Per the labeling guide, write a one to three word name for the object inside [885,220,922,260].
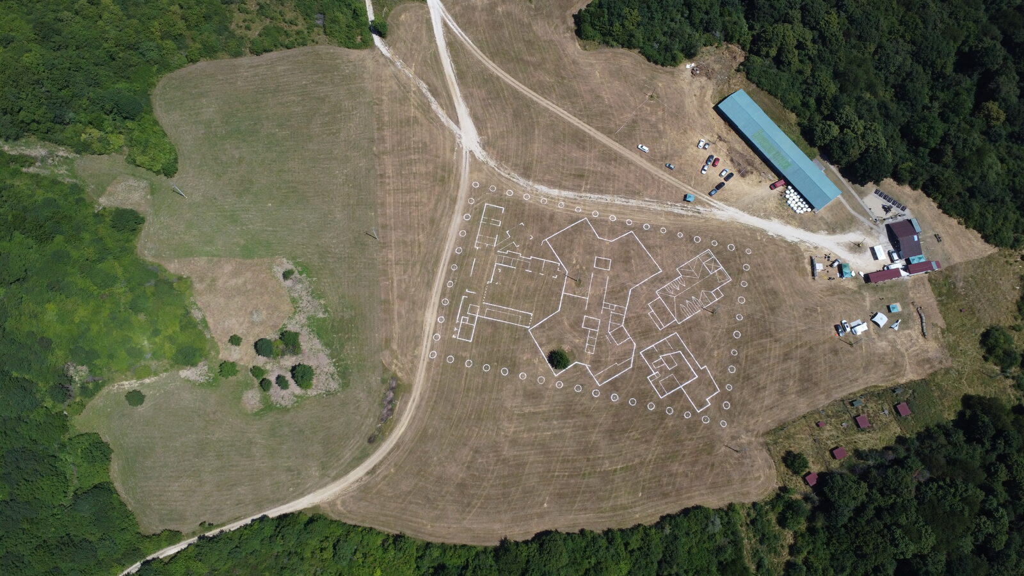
house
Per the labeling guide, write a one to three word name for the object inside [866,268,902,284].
shed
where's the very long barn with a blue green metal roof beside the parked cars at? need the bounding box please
[717,89,842,214]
